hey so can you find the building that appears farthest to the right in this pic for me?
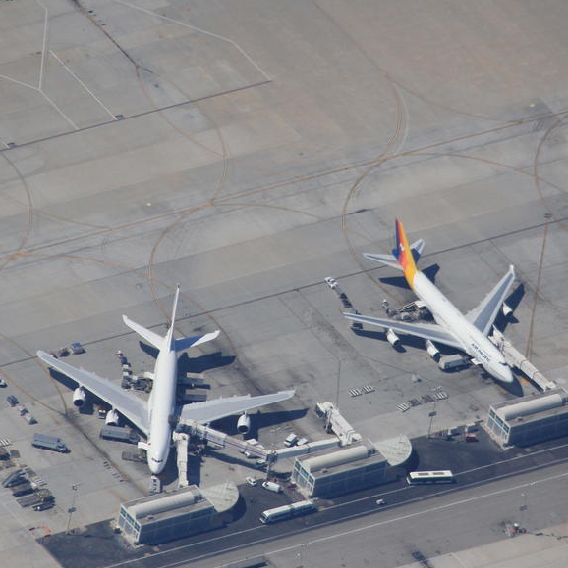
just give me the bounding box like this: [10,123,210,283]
[479,387,568,448]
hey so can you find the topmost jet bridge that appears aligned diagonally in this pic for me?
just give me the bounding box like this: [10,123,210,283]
[482,331,560,394]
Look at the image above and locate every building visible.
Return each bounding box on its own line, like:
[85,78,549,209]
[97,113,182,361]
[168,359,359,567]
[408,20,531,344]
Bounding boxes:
[112,478,235,546]
[284,432,406,500]
[479,387,568,448]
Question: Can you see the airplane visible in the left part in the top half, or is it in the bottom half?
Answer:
bottom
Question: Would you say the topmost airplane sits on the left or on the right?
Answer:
right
